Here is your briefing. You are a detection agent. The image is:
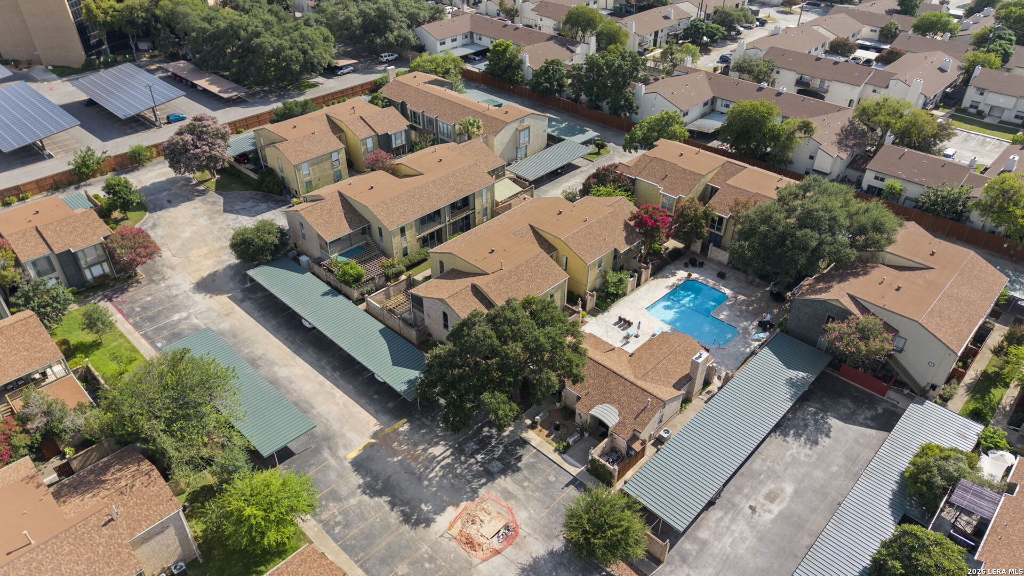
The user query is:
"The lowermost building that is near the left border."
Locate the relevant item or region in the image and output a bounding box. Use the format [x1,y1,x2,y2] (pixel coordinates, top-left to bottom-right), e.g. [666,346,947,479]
[0,443,201,576]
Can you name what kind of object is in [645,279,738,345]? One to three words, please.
swimming pool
